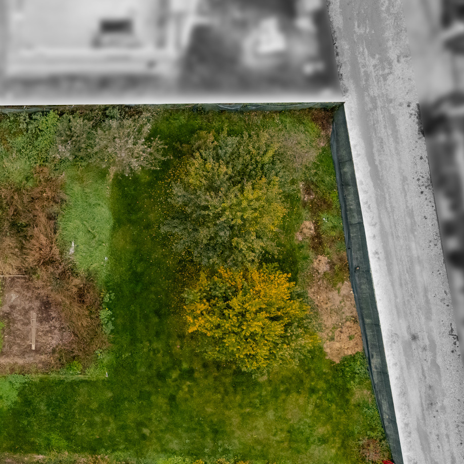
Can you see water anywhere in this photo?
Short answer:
No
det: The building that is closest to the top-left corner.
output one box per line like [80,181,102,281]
[3,0,171,93]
